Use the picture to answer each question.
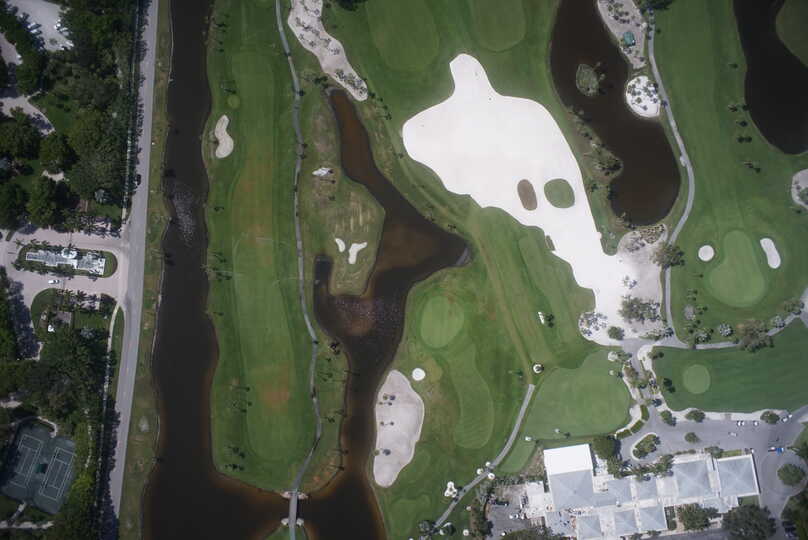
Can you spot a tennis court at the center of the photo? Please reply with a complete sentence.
No, I can find no tennis court at the center of the photo.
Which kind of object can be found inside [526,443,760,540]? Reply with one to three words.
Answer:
building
